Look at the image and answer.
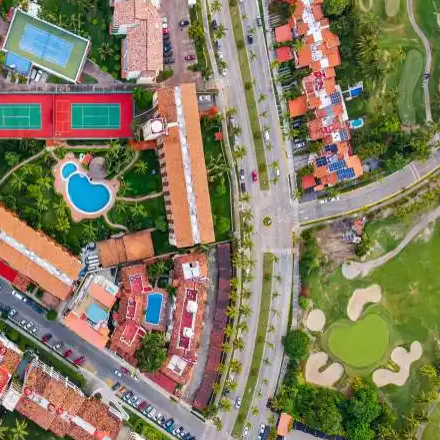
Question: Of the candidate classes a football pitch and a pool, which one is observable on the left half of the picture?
pool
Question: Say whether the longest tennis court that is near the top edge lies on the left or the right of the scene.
left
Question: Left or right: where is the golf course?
right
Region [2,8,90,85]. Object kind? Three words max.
tennis court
